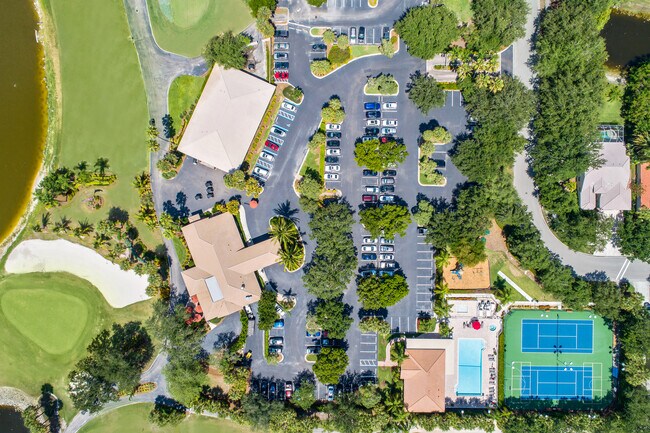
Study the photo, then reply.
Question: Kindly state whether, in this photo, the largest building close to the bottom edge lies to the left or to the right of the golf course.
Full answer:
Looking at the photo, the largest building close to the bottom edge lies to the right of the golf course.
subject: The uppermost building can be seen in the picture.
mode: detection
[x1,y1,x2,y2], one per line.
[180,65,275,172]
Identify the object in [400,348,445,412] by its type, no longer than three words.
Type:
building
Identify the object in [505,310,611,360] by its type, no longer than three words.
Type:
tennis court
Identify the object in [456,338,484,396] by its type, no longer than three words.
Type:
swimming pool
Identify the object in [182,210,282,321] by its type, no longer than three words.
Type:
building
